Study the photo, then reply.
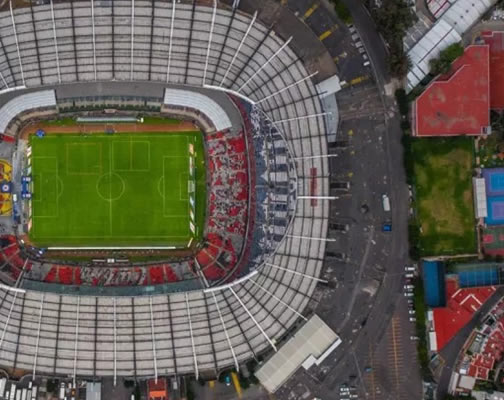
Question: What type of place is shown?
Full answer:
This image shows a sports ground.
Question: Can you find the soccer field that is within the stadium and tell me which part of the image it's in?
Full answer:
The soccer field that is within the stadium is in the left part of the image.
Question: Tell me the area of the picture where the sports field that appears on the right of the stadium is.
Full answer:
The sports field that appears on the right of the stadium is located in the right region of the scene.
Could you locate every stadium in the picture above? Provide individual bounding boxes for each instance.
[0,0,338,385]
